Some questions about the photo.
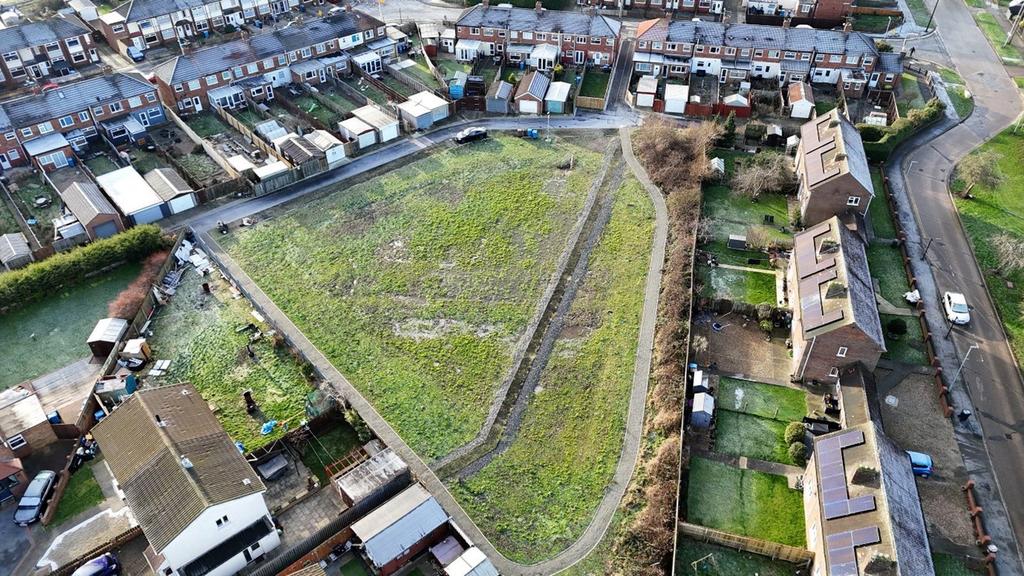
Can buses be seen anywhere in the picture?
No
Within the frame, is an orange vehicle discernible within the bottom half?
No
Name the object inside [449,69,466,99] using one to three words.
shed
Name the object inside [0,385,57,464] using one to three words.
house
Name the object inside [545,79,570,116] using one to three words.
building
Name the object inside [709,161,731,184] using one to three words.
greenhouse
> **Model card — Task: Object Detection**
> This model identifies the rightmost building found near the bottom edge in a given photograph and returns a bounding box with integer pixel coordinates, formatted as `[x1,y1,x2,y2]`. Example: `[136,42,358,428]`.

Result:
[796,419,951,576]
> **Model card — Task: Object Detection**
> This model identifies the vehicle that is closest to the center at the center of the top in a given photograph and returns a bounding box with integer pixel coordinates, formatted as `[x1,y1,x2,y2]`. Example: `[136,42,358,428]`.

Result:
[455,126,489,143]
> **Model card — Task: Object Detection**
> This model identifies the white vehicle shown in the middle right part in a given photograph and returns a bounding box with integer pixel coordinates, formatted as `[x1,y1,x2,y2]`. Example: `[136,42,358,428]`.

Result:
[943,290,974,323]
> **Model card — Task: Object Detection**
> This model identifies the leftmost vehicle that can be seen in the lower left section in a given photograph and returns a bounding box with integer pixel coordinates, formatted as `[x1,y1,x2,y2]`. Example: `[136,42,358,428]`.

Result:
[11,468,60,528]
